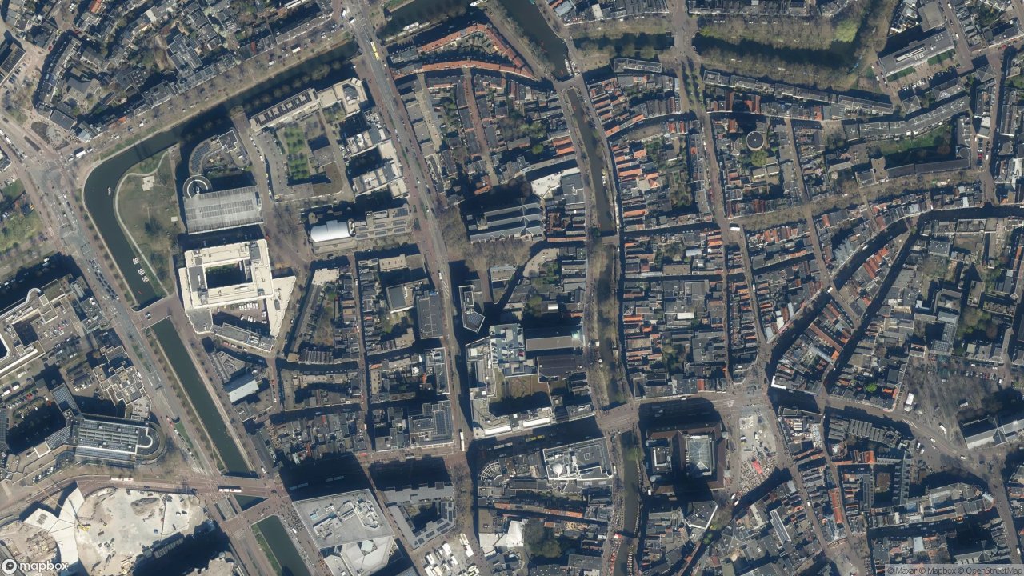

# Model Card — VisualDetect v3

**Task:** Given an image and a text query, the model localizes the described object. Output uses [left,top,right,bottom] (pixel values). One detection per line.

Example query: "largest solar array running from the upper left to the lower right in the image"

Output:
[54,387,77,414]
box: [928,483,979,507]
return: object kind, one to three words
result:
building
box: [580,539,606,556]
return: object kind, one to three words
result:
house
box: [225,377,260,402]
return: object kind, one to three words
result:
building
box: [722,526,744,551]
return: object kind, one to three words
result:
house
